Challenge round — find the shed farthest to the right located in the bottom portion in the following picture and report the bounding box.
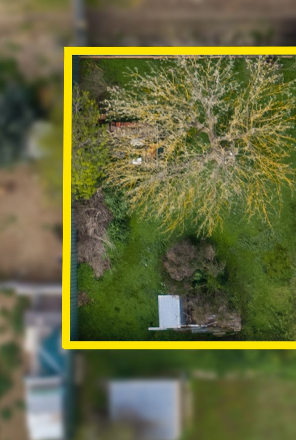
[158,296,187,329]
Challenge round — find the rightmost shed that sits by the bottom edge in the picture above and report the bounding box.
[109,378,187,440]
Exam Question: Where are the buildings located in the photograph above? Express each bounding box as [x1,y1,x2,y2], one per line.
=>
[158,296,187,329]
[109,378,187,440]
[25,378,67,440]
